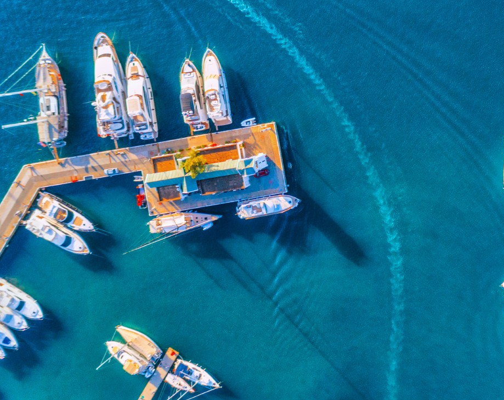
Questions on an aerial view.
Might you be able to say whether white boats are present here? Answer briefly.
Yes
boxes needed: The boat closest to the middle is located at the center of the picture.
[238,193,300,220]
